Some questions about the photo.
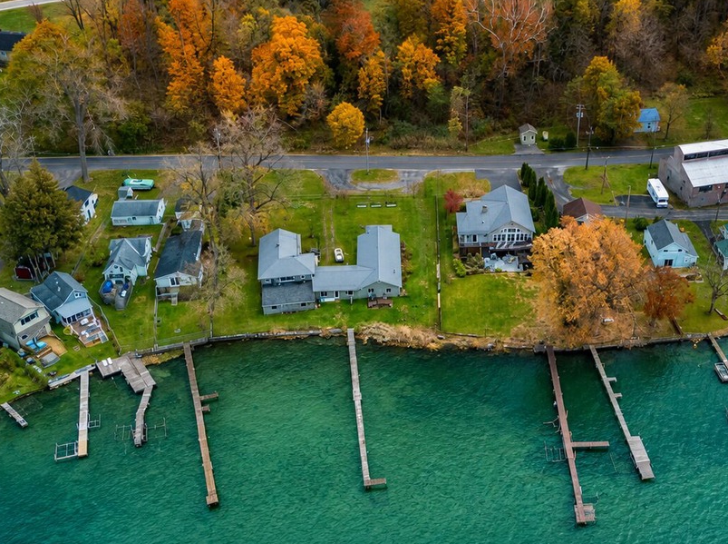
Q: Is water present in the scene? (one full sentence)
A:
Yes, there is water in the image.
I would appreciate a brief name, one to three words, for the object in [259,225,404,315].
house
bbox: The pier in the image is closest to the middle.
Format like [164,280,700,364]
[346,328,387,491]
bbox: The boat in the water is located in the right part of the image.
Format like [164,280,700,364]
[713,362,728,383]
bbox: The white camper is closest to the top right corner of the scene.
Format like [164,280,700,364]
[647,173,669,204]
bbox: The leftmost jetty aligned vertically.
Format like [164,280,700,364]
[76,370,90,461]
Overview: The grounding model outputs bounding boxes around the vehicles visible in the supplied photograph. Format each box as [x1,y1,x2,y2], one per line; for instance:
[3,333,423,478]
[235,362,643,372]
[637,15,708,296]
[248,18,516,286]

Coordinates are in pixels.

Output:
[335,246,345,260]
[647,173,669,204]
